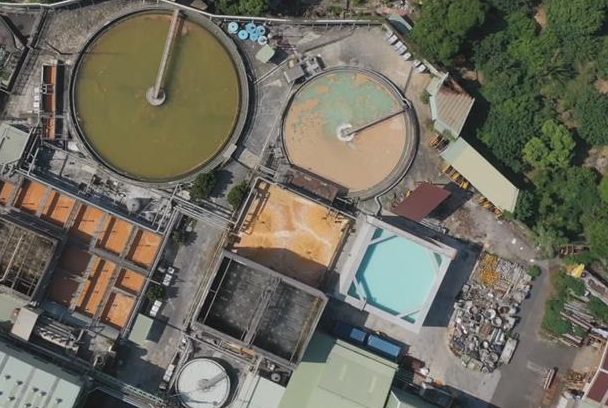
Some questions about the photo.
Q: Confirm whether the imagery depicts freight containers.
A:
Yes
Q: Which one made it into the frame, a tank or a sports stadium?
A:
tank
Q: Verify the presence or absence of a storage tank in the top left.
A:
Yes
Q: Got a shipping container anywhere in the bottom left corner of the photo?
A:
No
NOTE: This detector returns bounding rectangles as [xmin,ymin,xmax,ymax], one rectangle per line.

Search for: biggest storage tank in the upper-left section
[70,5,249,185]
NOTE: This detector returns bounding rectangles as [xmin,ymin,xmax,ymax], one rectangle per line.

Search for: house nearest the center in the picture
[284,168,338,202]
